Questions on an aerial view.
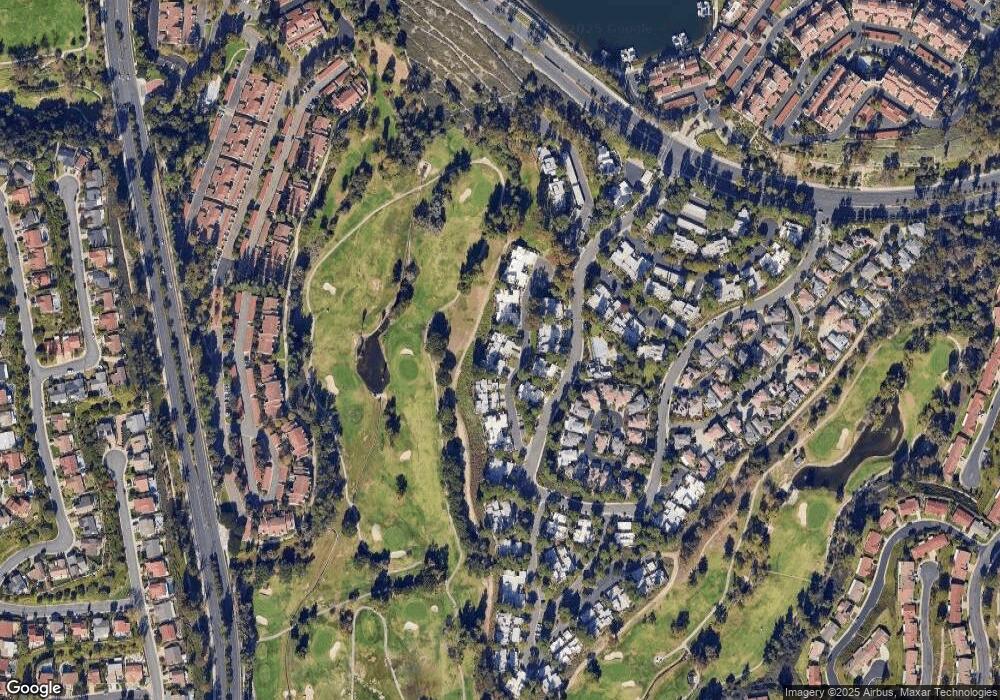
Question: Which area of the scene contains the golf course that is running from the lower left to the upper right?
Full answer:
You can find the golf course that is running from the lower left to the upper right in the bottom right area of the picture.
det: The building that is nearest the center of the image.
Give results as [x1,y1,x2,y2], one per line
[480,329,520,374]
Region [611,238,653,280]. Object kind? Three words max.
building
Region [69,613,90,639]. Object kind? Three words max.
house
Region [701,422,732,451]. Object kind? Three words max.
house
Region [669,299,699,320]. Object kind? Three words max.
building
